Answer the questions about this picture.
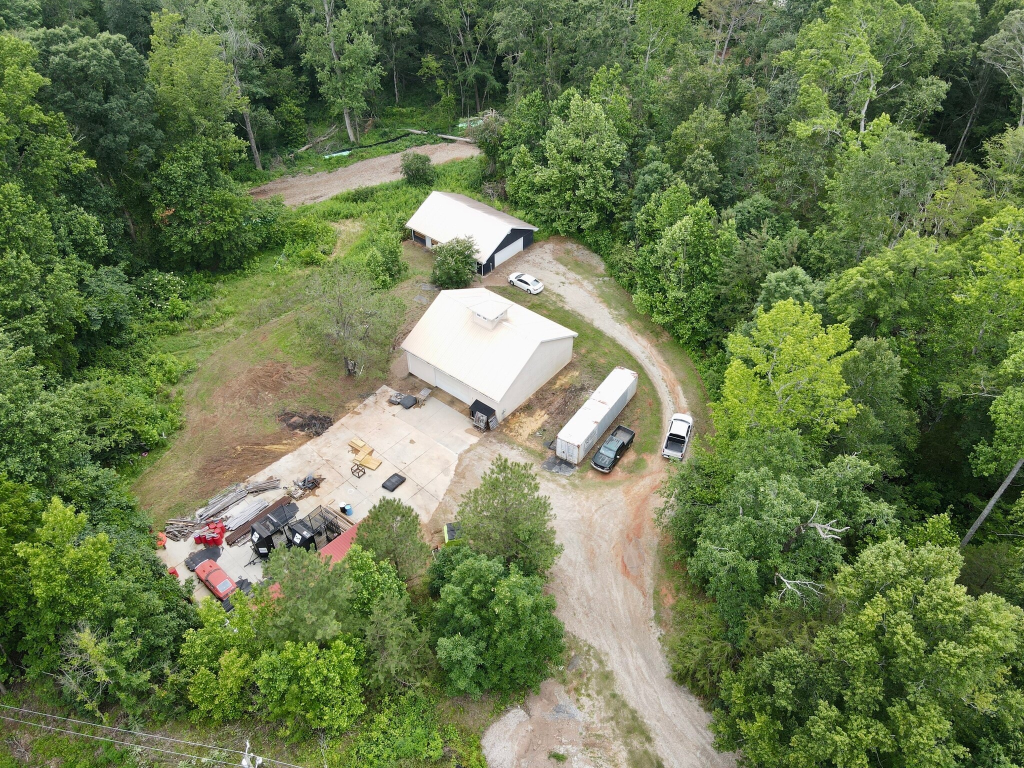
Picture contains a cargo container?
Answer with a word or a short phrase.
Yes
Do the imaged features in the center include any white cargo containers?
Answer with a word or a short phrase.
Yes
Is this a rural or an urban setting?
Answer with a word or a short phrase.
rural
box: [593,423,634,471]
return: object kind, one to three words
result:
truck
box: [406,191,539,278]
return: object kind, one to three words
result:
building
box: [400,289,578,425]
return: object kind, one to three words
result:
barn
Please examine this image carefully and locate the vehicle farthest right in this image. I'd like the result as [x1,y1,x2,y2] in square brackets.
[662,412,694,461]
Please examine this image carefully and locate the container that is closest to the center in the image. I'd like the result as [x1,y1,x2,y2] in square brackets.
[556,365,638,465]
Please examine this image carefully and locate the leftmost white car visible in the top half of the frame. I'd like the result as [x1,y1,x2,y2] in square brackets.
[507,274,545,296]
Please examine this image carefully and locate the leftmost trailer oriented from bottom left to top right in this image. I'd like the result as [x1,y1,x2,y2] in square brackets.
[236,503,297,562]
